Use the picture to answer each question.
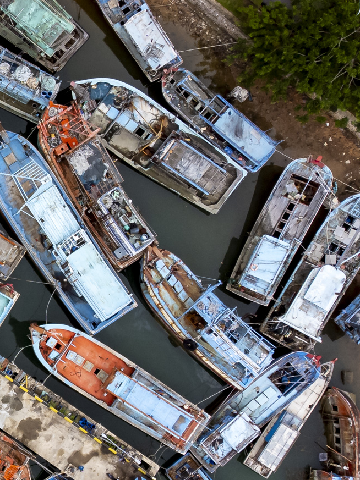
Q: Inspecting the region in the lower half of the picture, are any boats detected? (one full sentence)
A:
Yes, a boat appears in the lower half of the picture.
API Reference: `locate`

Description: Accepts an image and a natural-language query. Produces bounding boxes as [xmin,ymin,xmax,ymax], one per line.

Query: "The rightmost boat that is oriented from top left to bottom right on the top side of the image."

[161,66,284,173]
